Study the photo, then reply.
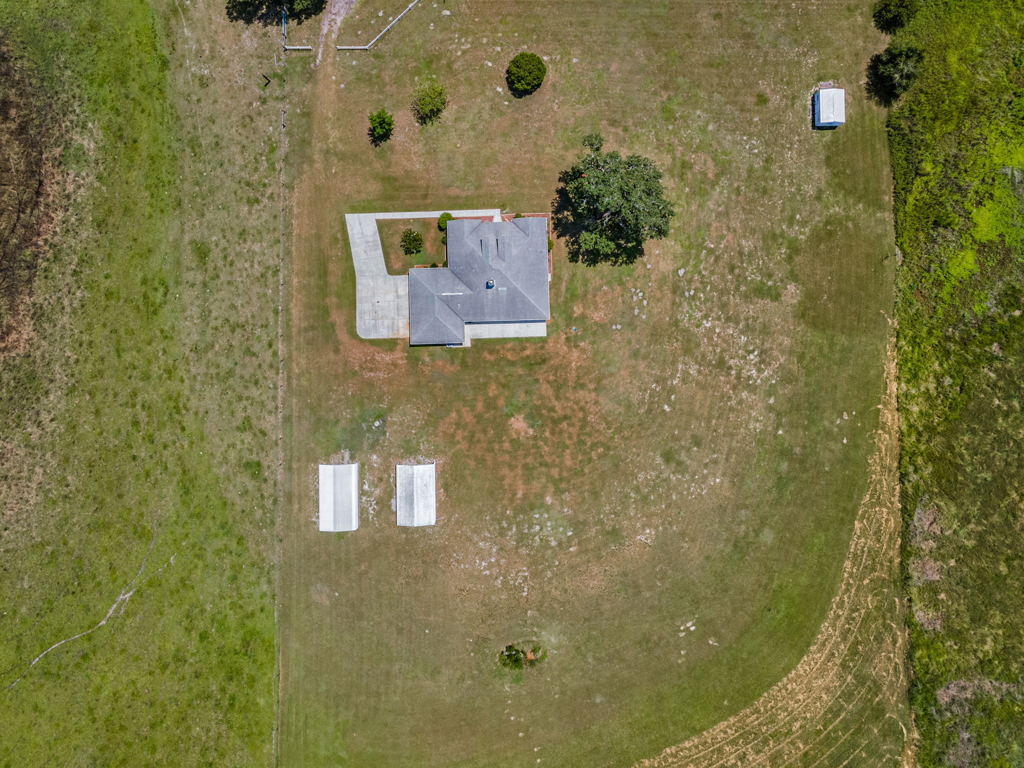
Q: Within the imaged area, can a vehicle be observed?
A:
No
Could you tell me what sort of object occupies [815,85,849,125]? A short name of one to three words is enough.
shed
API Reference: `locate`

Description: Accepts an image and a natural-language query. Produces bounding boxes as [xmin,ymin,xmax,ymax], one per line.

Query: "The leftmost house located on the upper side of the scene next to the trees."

[408,216,550,344]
